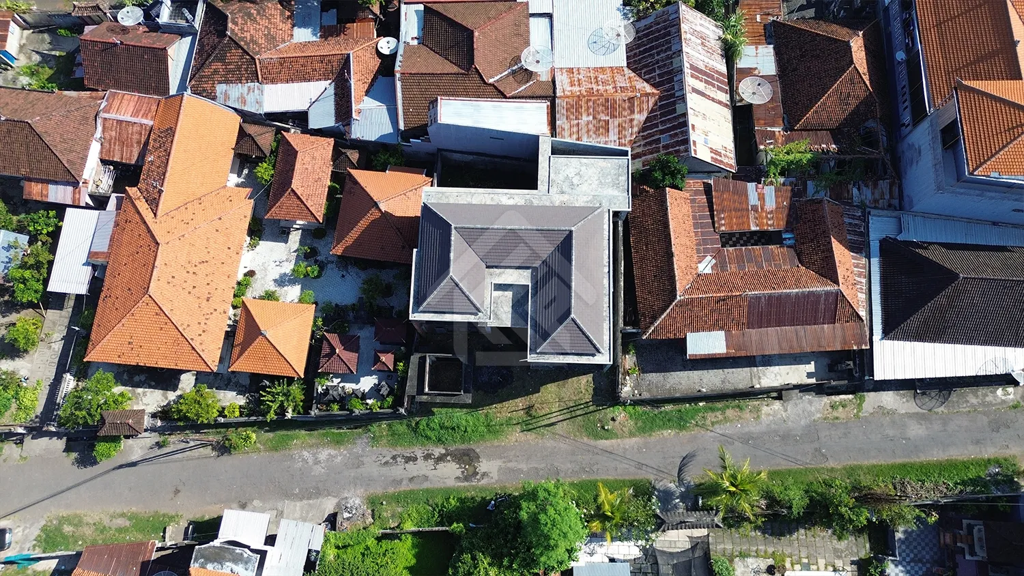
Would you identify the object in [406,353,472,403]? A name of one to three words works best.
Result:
shed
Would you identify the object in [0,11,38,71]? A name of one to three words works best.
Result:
house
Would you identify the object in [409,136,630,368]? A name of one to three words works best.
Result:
house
